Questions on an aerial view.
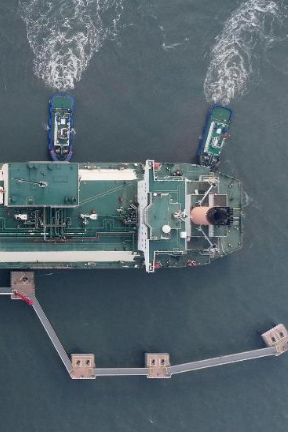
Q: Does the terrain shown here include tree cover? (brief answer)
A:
No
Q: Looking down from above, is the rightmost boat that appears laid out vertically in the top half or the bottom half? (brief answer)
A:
top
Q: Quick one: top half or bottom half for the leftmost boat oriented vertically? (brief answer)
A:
top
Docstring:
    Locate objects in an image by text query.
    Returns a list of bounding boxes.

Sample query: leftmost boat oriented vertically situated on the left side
[48,92,74,161]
